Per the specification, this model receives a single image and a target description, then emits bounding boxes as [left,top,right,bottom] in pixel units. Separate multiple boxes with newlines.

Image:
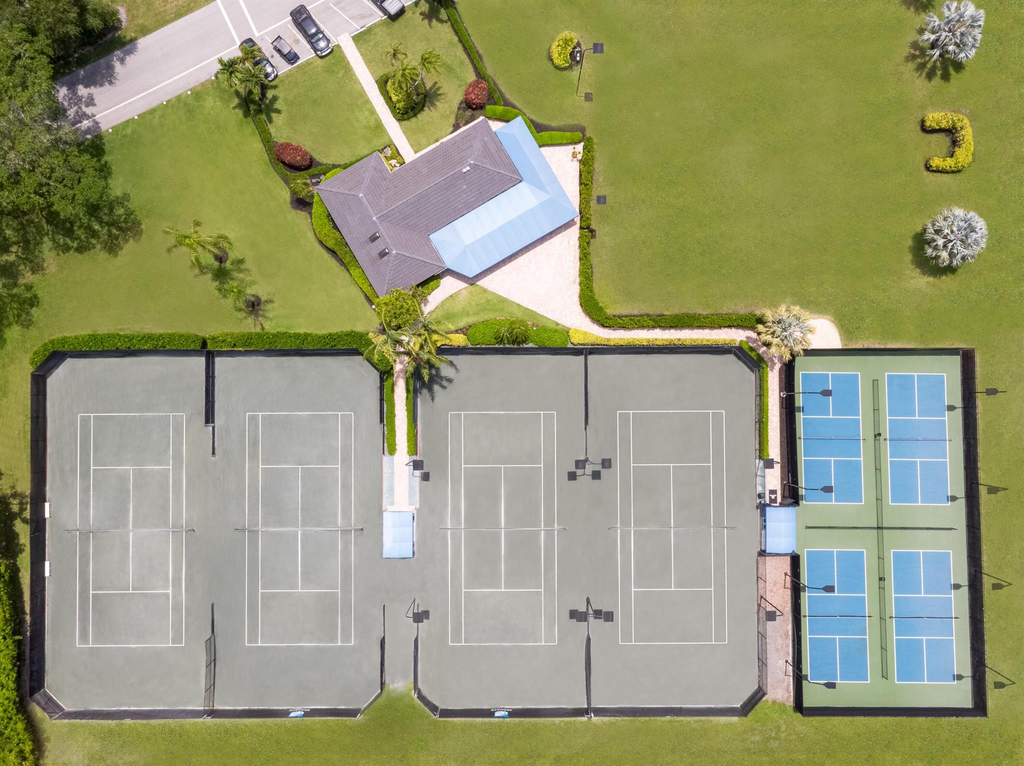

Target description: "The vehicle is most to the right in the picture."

[375,0,405,21]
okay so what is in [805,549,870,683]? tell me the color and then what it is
blue sports court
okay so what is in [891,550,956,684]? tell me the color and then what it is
blue sports court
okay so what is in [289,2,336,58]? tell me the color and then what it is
gray truck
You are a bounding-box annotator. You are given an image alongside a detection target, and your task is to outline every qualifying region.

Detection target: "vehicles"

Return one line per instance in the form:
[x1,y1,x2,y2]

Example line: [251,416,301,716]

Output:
[375,0,405,21]
[239,36,280,82]
[289,2,336,58]
[272,36,301,67]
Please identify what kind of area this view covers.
sports ground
